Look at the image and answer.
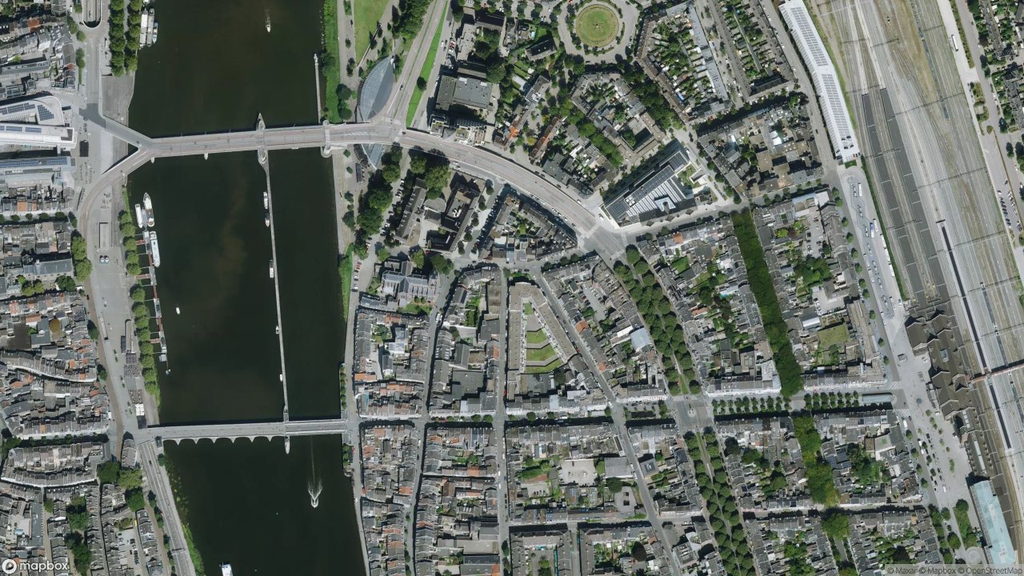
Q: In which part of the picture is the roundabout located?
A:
top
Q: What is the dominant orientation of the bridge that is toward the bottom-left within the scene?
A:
horizontally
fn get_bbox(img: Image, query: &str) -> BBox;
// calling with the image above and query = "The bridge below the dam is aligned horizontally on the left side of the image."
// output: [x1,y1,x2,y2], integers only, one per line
[138,408,350,455]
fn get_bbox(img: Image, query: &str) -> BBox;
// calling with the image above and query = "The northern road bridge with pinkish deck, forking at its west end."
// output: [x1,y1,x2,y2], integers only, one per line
[86,114,594,232]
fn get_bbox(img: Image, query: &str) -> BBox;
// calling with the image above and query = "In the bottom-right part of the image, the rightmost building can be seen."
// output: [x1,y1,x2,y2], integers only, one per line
[969,480,1017,576]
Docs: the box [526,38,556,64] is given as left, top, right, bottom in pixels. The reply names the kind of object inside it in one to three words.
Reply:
house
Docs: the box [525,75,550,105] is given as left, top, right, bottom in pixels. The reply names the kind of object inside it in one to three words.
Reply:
building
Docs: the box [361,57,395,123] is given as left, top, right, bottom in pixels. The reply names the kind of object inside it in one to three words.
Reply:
building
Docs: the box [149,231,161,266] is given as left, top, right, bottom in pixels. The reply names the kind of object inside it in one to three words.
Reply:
boat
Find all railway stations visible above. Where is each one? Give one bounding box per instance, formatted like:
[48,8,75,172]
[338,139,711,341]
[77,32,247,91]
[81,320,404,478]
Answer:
[905,314,991,479]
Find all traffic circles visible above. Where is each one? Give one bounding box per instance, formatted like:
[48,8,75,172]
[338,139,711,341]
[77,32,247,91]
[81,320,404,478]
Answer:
[572,2,622,50]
